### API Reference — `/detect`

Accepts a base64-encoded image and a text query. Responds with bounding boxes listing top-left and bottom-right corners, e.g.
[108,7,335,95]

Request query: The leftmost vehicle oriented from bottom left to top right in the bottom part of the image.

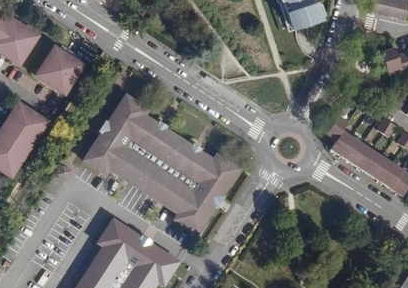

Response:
[37,268,50,284]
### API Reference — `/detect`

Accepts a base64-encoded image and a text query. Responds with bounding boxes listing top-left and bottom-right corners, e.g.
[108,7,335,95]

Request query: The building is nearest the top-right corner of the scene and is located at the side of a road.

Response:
[373,0,408,22]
